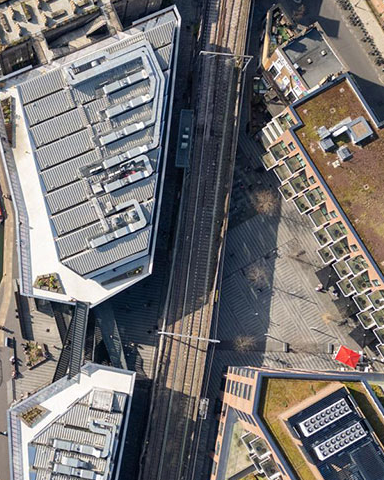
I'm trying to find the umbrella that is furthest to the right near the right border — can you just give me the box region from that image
[352,327,377,347]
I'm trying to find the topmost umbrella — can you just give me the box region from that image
[314,266,339,289]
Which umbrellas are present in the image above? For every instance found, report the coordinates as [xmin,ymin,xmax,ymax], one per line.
[352,327,377,347]
[335,295,359,317]
[335,346,360,368]
[314,266,339,289]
